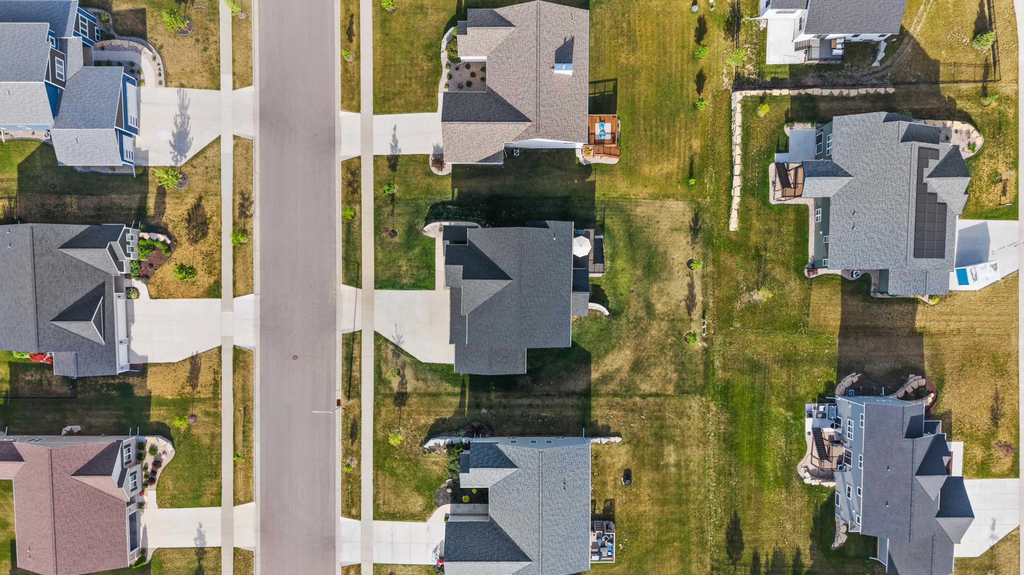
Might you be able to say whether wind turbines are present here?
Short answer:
No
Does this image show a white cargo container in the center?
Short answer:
No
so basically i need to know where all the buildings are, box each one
[0,427,143,575]
[443,429,591,575]
[803,111,972,294]
[0,220,150,377]
[824,386,974,575]
[751,0,907,43]
[442,0,590,171]
[442,220,590,375]
[0,0,142,176]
